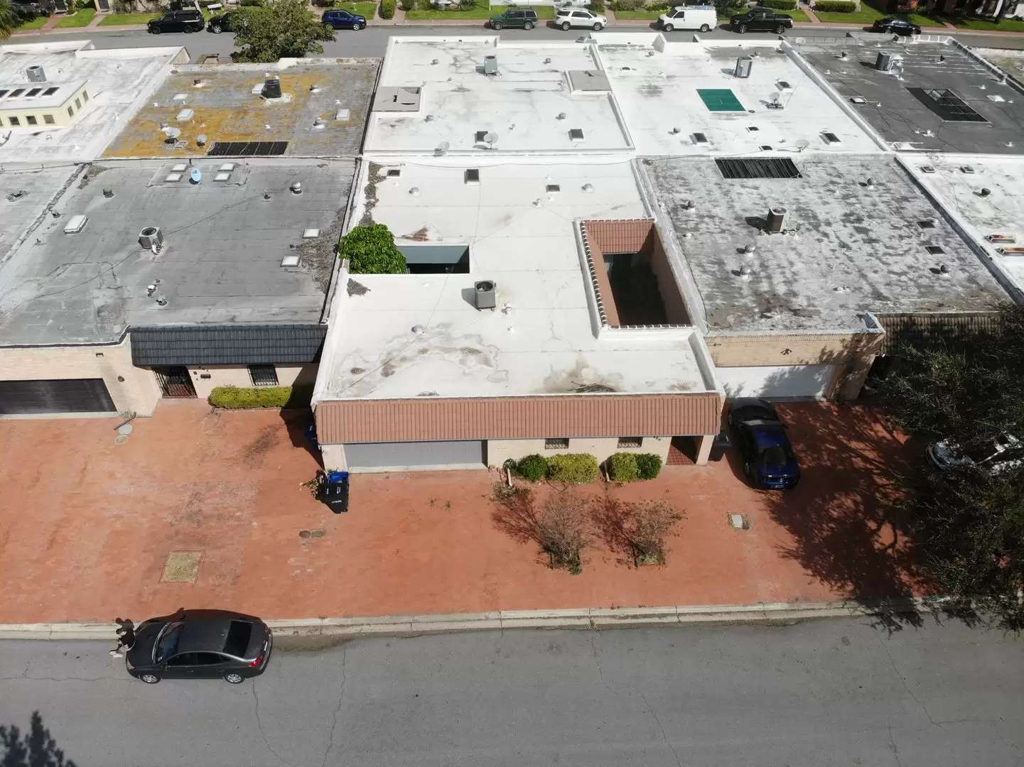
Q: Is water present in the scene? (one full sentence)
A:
No, the picture contains no water.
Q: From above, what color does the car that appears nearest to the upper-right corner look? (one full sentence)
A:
From above, the car that appears nearest to the upper-right corner appears black.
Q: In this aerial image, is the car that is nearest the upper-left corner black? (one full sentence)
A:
Yes, the car that is nearest the upper-left corner appears black.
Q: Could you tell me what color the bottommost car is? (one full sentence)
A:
From above, the bottommost car appears black.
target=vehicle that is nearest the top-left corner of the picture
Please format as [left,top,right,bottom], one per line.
[146,5,208,34]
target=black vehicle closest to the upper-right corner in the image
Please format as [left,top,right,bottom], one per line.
[869,13,923,35]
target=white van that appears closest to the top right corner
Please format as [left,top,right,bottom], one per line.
[656,0,719,31]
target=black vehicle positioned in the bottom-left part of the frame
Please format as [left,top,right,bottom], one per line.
[117,610,272,683]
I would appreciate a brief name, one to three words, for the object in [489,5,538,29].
car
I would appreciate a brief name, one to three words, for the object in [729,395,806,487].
car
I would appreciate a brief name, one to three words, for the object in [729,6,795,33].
truck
